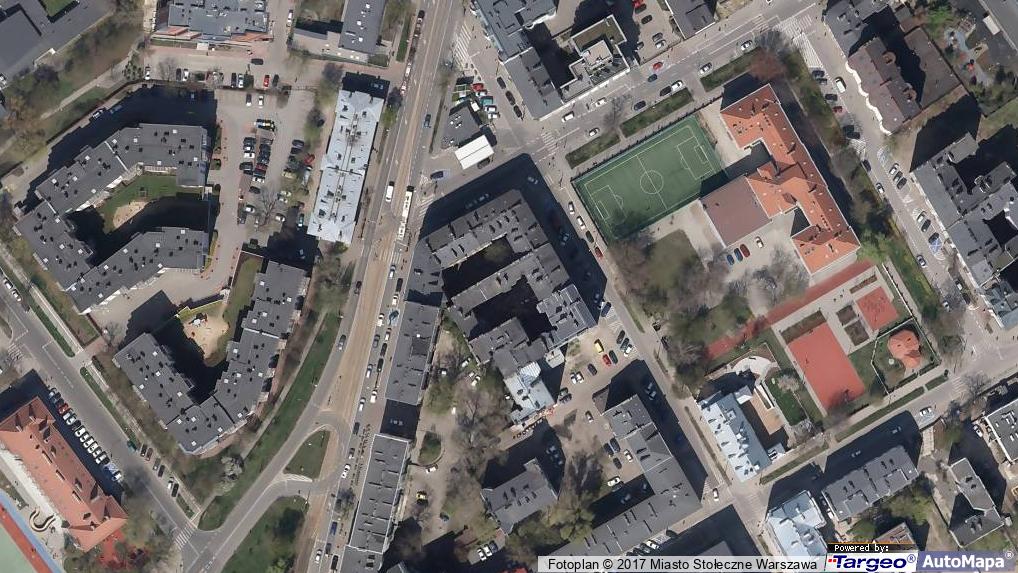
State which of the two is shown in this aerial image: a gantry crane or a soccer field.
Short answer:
soccer field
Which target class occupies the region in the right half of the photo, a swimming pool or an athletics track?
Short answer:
athletics track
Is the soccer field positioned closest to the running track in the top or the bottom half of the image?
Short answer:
top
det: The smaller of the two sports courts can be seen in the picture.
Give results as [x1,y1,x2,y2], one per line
[856,287,898,331]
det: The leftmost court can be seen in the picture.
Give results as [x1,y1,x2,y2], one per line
[788,322,865,410]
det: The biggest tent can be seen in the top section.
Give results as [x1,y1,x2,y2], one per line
[454,134,495,170]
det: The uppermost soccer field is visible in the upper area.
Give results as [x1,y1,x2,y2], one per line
[572,115,731,243]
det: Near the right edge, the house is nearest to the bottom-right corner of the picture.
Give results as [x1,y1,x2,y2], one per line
[945,461,1004,547]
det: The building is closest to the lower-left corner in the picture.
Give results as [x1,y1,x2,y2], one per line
[0,394,129,552]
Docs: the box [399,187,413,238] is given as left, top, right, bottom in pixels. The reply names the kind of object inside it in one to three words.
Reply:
vehicle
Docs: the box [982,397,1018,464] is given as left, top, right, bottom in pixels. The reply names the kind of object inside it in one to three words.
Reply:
house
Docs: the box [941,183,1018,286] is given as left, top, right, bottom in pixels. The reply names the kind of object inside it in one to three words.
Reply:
building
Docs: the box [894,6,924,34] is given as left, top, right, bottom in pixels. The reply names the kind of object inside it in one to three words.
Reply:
shed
